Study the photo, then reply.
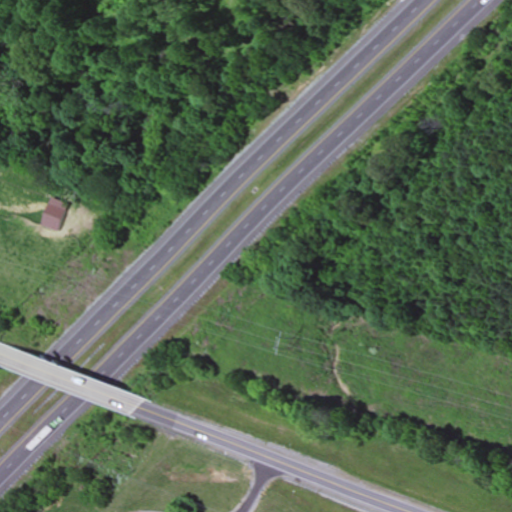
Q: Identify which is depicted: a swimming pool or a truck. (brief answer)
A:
truck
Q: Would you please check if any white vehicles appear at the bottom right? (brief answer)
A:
No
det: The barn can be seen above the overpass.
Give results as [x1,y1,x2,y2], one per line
[39,196,68,232]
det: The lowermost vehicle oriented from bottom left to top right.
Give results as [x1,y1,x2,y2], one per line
[26,420,58,452]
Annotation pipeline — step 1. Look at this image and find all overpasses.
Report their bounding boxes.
[0,342,156,418]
